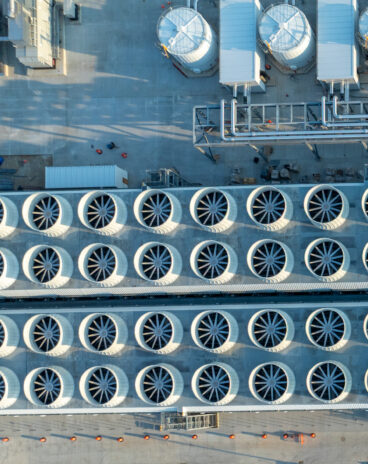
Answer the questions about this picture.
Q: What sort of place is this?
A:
industrial area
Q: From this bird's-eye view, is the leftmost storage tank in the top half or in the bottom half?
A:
top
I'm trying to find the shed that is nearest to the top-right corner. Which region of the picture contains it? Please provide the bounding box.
[317,0,358,88]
